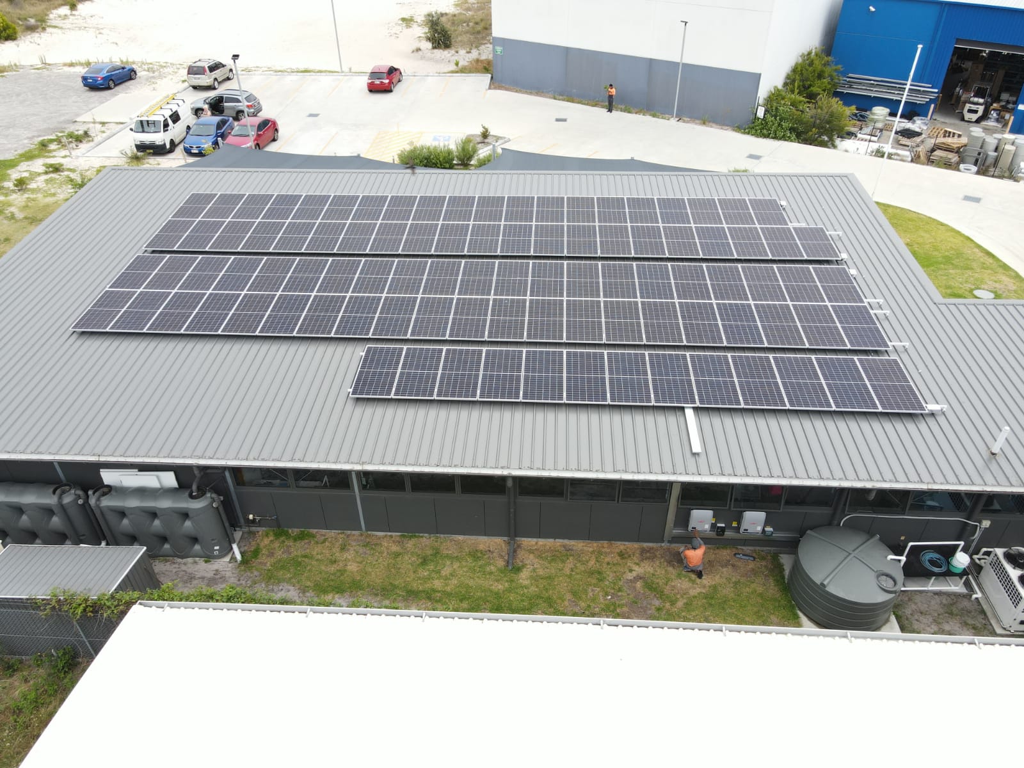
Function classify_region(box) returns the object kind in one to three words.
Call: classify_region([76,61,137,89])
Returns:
car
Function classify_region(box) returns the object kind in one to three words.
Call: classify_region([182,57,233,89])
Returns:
car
